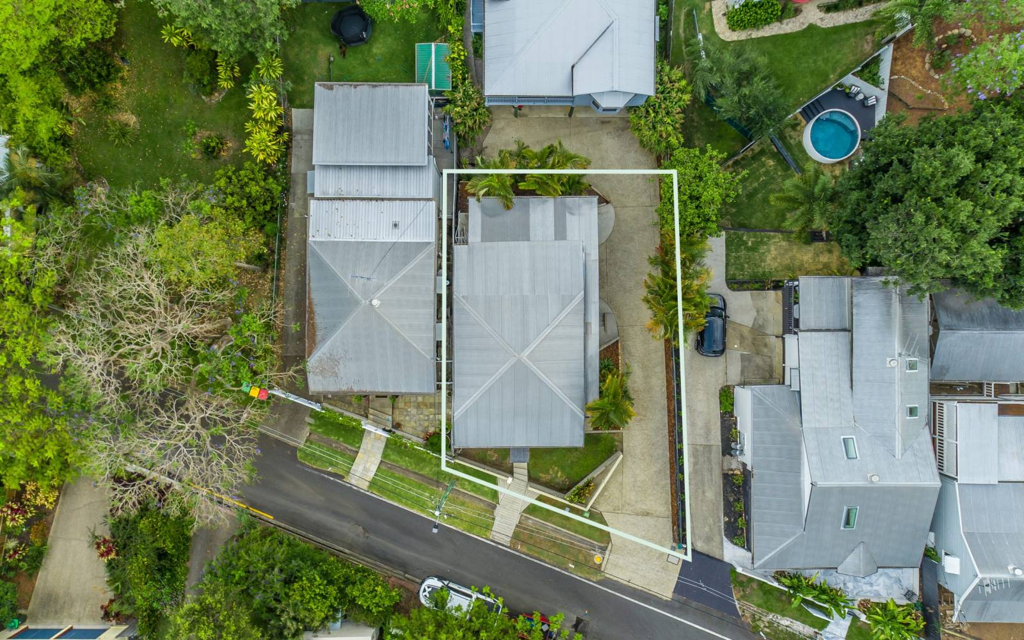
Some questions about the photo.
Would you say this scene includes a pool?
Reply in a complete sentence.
Yes, the image includes a pool.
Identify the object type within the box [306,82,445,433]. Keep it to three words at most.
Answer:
house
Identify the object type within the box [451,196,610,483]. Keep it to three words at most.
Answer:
house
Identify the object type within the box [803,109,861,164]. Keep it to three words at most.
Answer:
swimming pool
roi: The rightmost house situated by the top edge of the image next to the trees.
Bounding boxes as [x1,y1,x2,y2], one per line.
[471,0,659,120]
